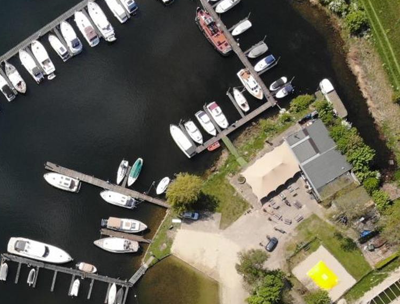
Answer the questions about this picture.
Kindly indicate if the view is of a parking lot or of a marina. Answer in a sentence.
The area seen from above is a marina.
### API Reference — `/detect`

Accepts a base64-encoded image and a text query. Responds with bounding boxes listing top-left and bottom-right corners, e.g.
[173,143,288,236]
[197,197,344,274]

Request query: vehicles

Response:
[181,212,199,220]
[263,236,278,253]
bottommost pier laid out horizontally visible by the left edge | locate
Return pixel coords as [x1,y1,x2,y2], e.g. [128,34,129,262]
[2,251,134,289]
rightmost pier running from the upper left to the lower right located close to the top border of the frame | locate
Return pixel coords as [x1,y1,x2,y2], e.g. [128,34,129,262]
[202,0,279,107]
